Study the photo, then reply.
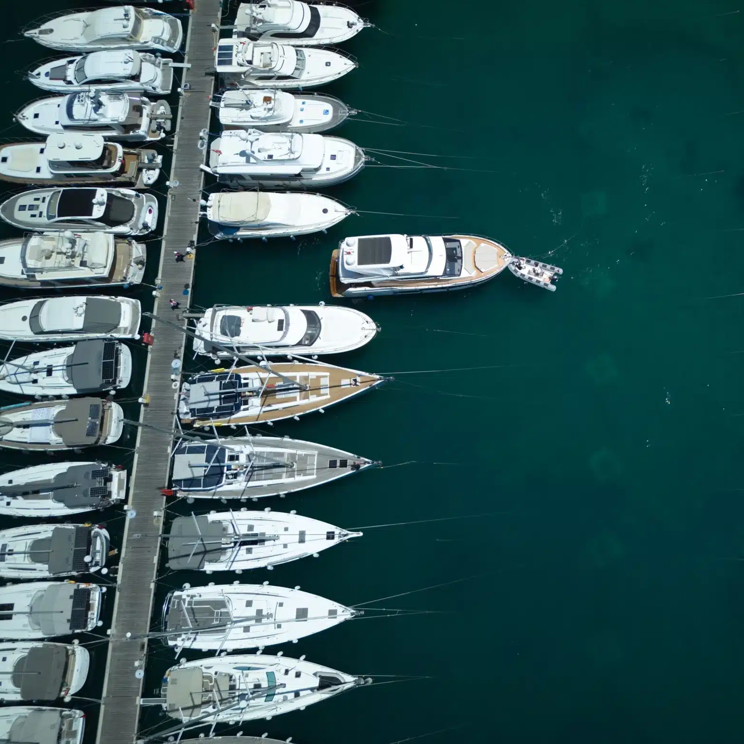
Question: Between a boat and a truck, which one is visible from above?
boat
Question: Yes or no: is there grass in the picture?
No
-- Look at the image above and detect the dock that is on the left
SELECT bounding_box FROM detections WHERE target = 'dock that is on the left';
[97,0,226,744]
